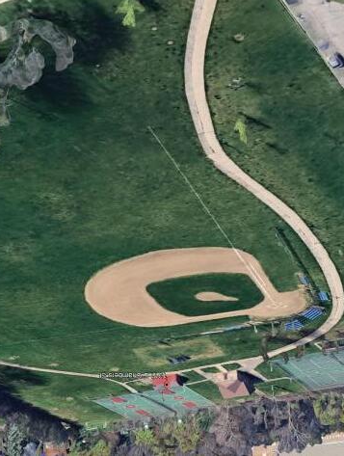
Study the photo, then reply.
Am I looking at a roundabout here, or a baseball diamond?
baseball diamond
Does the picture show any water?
No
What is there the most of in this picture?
grass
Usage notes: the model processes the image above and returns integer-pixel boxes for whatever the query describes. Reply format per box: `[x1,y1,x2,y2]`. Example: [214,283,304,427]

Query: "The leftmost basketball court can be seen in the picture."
[96,394,177,423]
